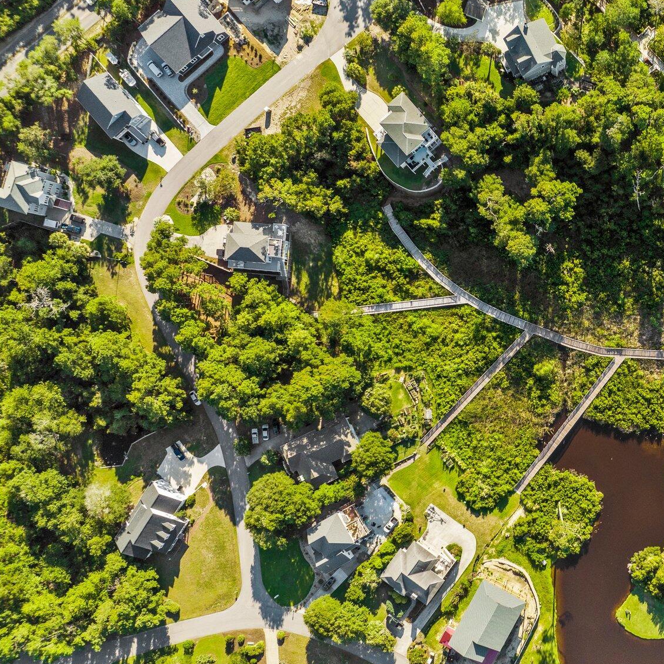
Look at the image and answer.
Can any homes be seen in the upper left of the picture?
Yes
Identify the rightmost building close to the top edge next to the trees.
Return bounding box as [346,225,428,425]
[500,20,566,82]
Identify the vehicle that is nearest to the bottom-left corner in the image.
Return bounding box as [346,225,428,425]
[168,443,184,461]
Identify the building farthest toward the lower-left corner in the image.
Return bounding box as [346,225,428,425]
[116,482,189,555]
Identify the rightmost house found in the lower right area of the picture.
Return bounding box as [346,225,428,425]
[440,566,527,664]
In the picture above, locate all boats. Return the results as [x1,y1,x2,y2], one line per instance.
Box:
[117,67,132,85]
